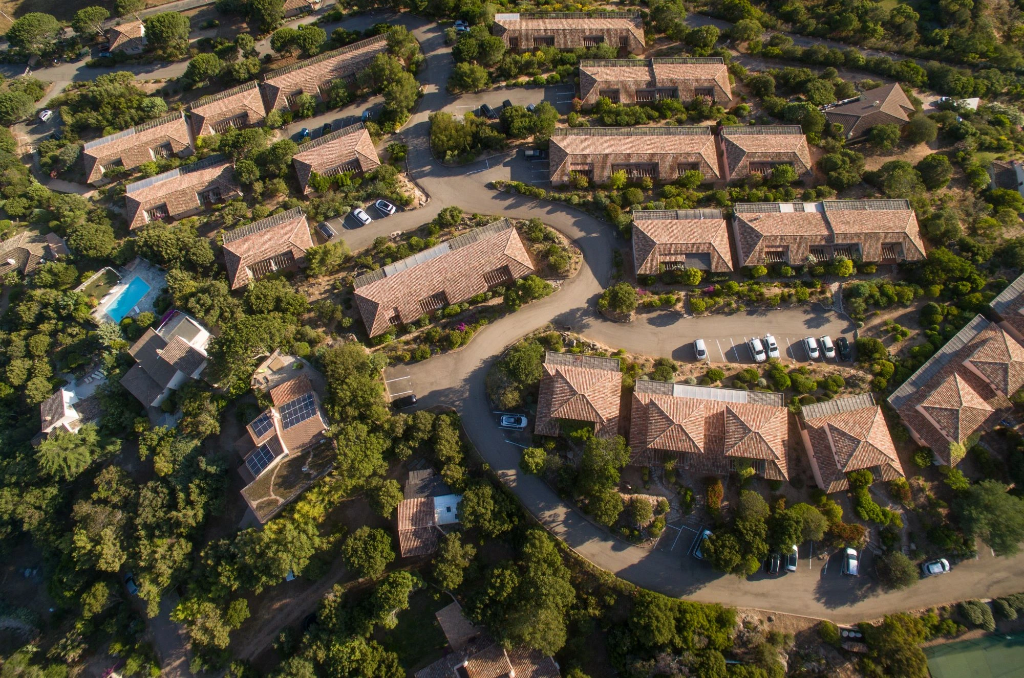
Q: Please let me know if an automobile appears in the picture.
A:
Yes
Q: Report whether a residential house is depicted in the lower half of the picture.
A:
Yes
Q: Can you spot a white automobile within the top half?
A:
Yes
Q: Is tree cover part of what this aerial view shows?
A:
Yes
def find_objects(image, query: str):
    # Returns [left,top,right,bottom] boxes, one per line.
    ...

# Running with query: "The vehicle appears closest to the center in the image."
[499,416,528,429]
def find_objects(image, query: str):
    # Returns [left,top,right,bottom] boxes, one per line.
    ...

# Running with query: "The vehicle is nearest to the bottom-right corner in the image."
[920,560,949,575]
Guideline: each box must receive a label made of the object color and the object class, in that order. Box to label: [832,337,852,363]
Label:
black car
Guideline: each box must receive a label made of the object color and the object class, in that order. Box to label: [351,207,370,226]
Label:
white car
